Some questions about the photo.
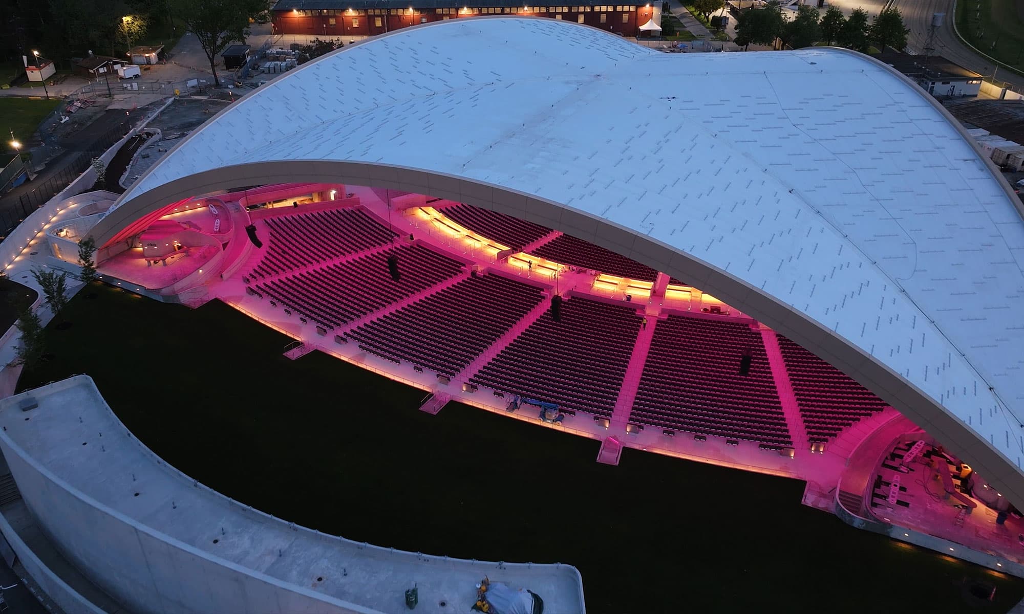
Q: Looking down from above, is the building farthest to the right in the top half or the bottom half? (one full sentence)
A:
The building farthest to the right is in the top half of the image.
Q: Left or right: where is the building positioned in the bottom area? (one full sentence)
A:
The building positioned in the bottom area appears in the left half of the scene.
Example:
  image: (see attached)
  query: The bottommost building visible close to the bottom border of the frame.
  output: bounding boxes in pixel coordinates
[0,371,585,614]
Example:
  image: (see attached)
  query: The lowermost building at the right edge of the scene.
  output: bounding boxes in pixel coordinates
[947,99,1024,153]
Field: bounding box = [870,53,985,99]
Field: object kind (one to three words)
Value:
building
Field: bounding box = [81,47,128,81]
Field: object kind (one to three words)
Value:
building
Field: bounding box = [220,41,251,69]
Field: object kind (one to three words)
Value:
shed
